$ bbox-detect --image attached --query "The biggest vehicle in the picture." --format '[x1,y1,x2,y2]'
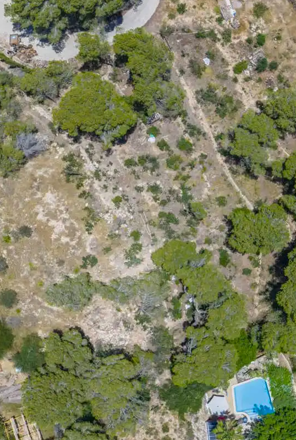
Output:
[3,32,20,52]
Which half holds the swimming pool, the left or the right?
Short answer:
right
